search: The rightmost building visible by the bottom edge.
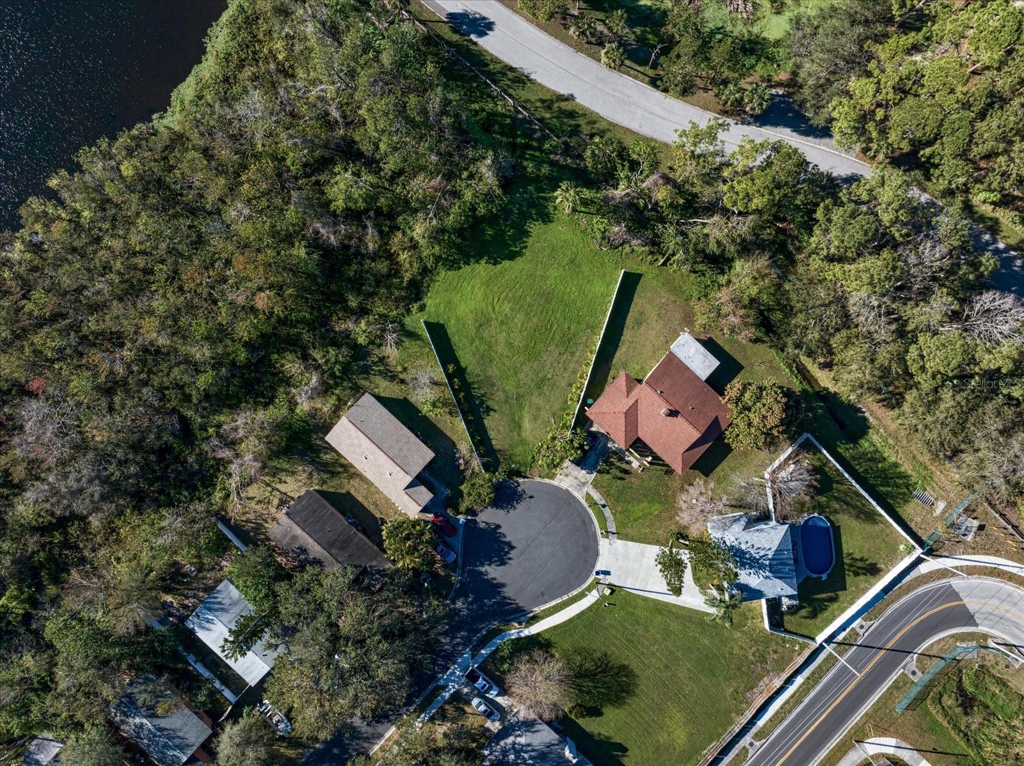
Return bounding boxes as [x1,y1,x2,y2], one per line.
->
[485,701,595,766]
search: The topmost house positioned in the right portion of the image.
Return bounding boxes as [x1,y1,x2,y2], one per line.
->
[586,332,735,476]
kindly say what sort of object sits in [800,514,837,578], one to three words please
swimming pool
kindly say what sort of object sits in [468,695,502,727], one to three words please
car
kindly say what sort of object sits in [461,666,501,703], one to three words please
truck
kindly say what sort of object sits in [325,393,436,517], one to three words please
house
